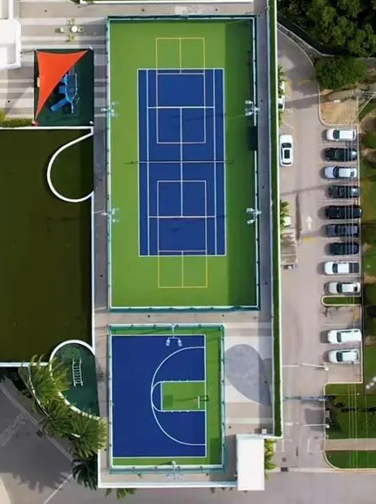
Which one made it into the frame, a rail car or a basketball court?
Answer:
basketball court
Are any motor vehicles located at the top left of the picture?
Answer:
No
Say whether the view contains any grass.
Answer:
Yes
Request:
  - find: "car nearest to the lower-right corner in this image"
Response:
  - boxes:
[327,348,362,365]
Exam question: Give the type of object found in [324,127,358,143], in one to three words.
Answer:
car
